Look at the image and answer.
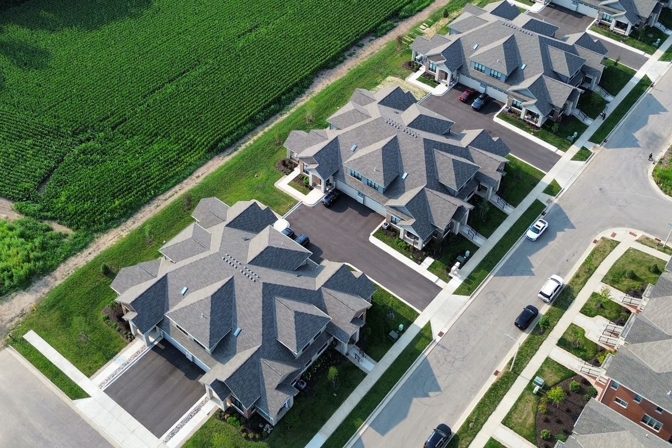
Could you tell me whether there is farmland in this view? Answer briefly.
Yes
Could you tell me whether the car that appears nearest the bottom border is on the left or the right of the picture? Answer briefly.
right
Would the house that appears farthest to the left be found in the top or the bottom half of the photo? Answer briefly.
bottom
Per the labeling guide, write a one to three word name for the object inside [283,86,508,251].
house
